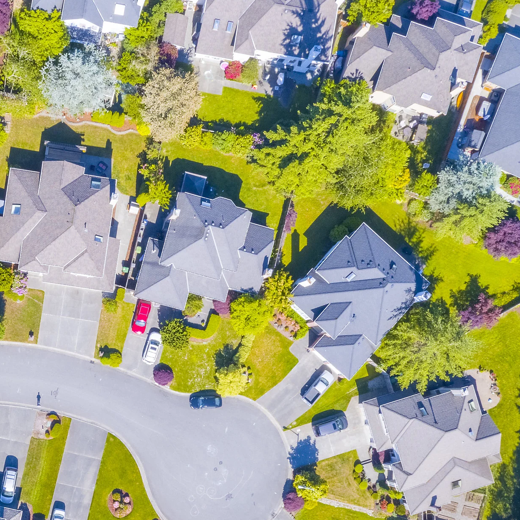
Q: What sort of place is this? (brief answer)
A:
residential area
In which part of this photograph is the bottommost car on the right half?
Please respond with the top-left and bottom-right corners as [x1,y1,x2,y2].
[310,413,350,437]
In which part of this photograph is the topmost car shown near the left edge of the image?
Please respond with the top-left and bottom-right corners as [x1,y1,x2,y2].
[0,467,19,503]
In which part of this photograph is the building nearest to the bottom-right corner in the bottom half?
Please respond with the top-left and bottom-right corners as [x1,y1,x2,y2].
[359,385,503,516]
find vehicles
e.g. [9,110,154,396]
[51,509,66,520]
[0,467,19,503]
[141,329,163,365]
[456,0,474,19]
[189,394,223,410]
[301,367,336,406]
[310,413,350,437]
[132,299,152,334]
